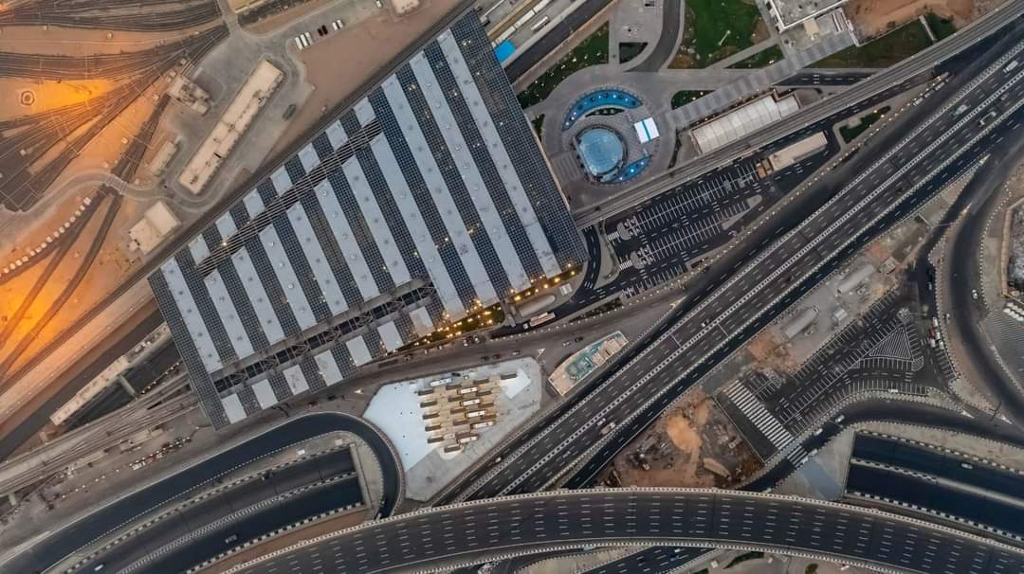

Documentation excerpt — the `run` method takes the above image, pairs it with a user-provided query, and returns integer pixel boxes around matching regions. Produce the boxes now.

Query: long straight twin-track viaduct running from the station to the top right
[569,0,1024,230]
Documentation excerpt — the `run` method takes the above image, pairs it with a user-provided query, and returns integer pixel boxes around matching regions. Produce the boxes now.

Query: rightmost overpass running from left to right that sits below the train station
[220,485,1024,574]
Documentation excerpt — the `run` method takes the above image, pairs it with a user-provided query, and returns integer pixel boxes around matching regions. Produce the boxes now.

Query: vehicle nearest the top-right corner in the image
[1003,59,1020,73]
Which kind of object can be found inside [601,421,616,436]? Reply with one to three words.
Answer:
vehicle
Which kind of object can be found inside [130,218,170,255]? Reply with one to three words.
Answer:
building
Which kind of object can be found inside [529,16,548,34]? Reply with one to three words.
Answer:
rail car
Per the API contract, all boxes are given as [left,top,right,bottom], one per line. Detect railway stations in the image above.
[148,9,589,431]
